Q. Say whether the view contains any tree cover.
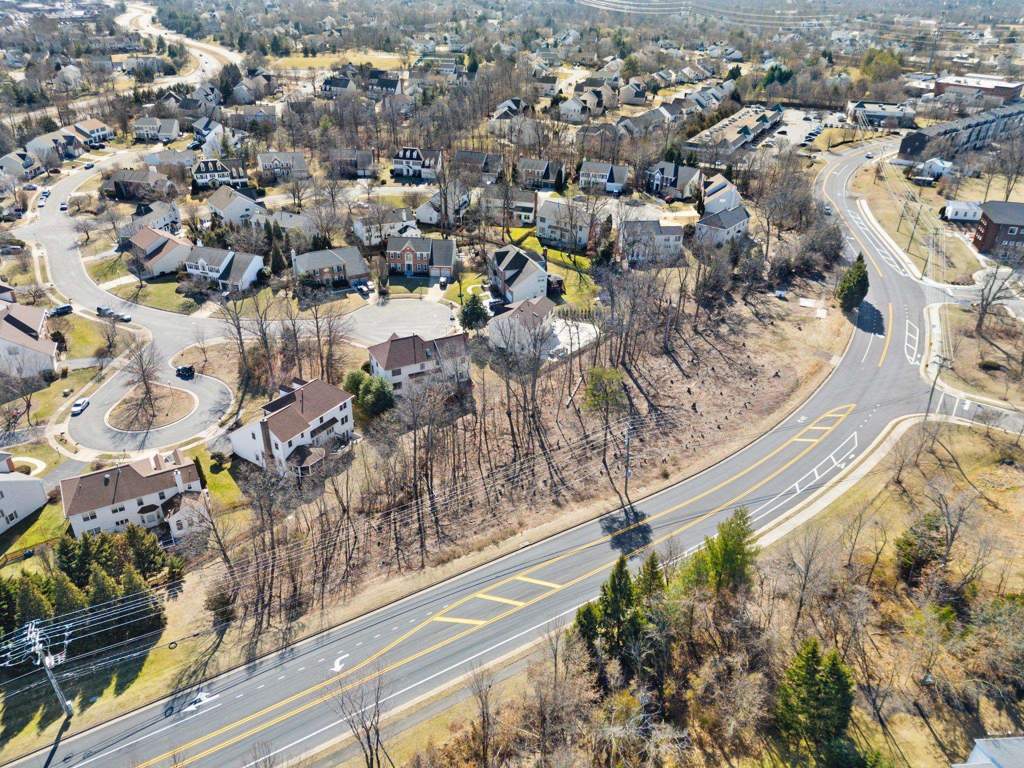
Yes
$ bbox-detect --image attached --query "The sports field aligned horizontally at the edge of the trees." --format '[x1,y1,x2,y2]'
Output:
[271,57,410,70]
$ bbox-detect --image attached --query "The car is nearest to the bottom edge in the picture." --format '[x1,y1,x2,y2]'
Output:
[66,398,91,414]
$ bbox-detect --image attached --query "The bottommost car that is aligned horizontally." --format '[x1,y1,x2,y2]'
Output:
[170,364,199,377]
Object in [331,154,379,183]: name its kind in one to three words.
house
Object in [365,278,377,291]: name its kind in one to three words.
vehicle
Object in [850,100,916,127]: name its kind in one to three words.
building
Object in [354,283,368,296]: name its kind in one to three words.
vehicle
